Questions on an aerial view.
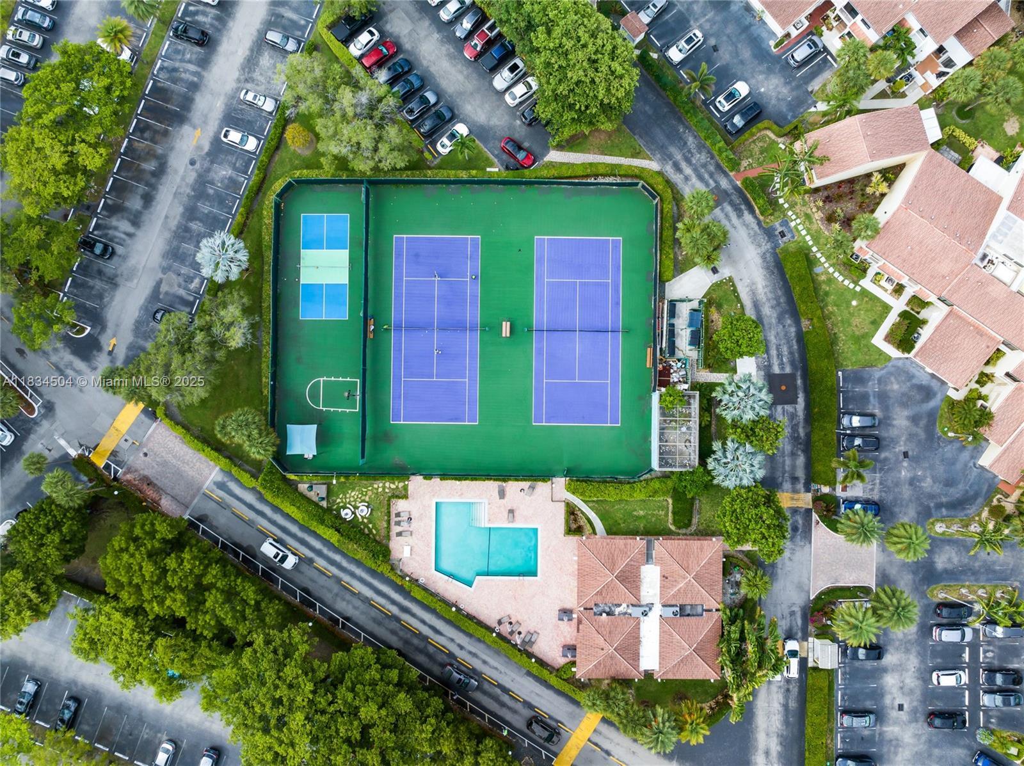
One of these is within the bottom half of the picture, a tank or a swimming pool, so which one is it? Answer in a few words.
swimming pool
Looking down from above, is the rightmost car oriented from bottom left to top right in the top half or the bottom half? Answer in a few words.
top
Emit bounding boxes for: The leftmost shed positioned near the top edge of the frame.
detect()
[619,11,648,46]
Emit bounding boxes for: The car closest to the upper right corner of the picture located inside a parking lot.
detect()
[785,34,826,69]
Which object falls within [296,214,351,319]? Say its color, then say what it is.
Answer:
blue sports court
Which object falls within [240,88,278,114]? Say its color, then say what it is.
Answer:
white car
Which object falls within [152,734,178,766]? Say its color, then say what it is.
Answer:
white car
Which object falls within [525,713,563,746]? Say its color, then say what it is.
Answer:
gray car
